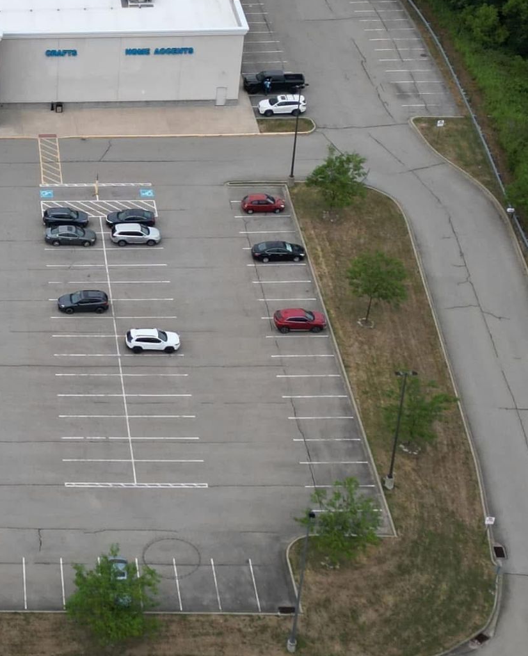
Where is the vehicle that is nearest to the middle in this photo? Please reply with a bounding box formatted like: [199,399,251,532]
[270,308,326,333]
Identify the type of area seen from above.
parking lot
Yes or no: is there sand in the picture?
No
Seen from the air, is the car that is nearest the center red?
Yes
